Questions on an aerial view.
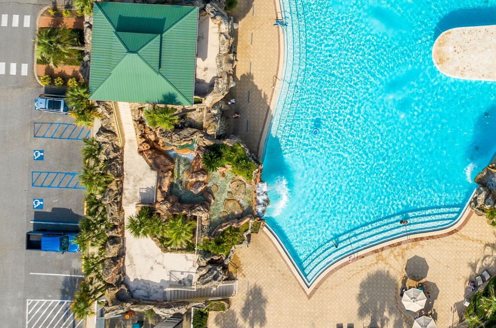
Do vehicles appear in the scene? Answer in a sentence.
Yes, looking at the shot, I can spot a vehicle.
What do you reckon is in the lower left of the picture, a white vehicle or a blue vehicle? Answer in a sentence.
The one visible in the lower left of the picture is a blue vehicle.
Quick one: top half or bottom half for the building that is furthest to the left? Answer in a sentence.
The building that is furthest to the left sits in the top half of the picture.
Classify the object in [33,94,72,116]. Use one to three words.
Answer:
car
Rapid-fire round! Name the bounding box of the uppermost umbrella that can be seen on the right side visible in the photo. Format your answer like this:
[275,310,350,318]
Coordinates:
[402,287,426,311]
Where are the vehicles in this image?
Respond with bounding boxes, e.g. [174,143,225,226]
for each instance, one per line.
[25,228,80,253]
[33,94,72,116]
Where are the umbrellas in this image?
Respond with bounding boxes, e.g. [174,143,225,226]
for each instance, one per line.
[412,314,437,328]
[402,287,426,311]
